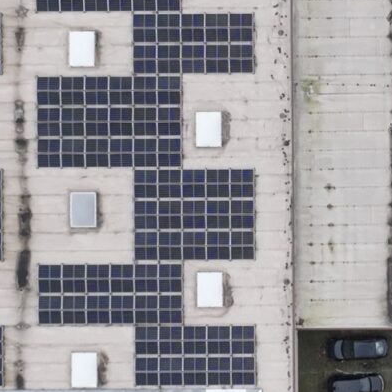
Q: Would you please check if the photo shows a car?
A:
Yes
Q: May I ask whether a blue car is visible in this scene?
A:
No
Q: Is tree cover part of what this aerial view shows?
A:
No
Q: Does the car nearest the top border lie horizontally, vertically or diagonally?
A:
horizontally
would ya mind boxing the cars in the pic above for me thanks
[328,336,389,363]
[328,372,385,392]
